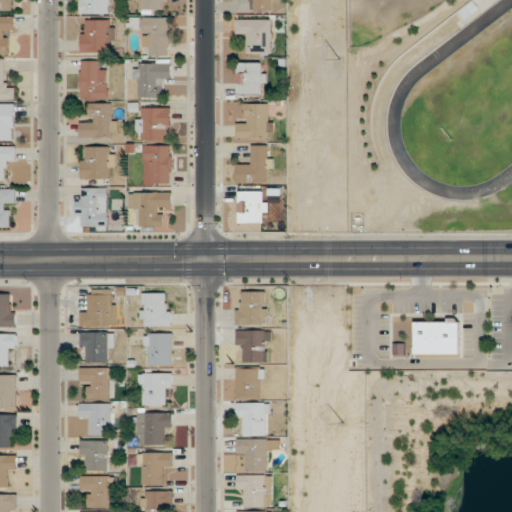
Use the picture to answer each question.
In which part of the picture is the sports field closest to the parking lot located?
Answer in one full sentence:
The sports field closest to the parking lot appears toward the top right of the photo.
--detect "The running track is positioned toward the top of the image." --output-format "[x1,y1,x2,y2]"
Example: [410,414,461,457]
[385,0,512,200]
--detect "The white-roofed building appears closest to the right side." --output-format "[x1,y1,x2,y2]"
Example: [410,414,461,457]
[412,316,460,354]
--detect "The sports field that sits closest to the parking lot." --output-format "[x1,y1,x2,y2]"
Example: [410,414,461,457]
[400,10,512,185]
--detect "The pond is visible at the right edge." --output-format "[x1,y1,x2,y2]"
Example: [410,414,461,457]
[458,448,512,512]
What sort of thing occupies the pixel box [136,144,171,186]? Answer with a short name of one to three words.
house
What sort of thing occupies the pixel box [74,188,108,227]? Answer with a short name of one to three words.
house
